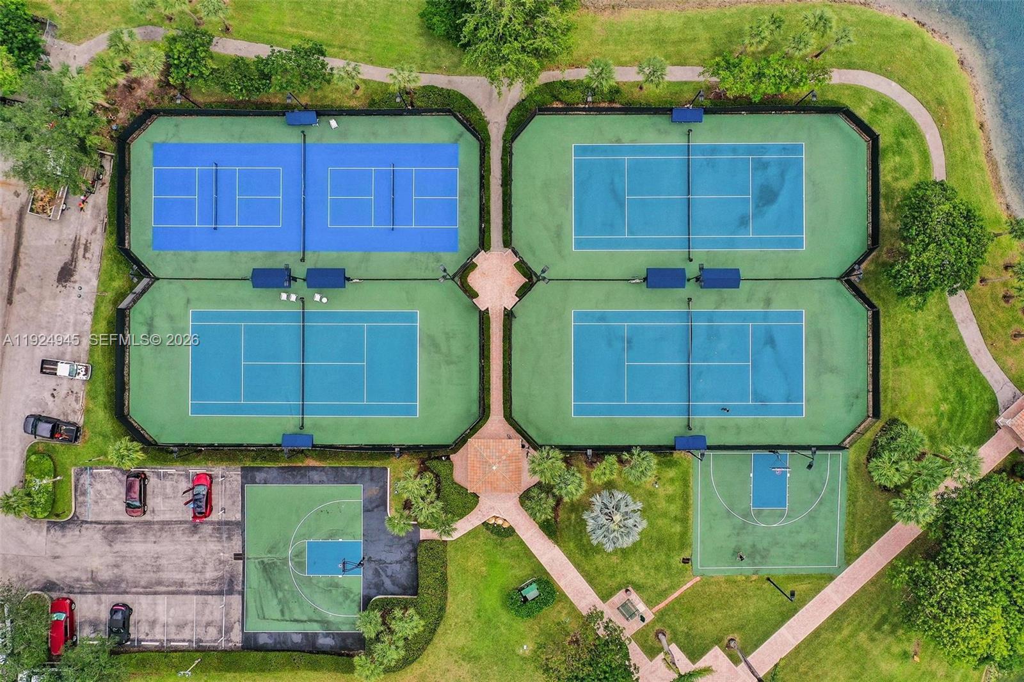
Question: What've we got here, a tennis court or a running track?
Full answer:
The image shows a tennis court.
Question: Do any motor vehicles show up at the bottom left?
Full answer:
Yes, a motor vehicle can be seen at the bottom left.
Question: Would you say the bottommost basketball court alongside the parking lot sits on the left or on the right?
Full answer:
The bottommost basketball court alongside the parking lot is on the left side of the image.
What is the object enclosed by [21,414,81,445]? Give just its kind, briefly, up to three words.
truck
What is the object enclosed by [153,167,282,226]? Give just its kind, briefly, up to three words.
sports court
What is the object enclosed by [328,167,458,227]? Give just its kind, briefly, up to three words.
sports court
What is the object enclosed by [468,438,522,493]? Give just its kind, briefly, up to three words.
gazebo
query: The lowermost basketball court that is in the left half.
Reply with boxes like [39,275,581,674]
[245,485,362,632]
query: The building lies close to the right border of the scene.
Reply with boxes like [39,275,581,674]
[983,382,1024,464]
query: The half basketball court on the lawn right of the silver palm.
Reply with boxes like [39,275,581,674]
[693,451,847,575]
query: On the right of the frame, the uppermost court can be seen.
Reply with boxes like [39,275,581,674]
[512,114,868,279]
